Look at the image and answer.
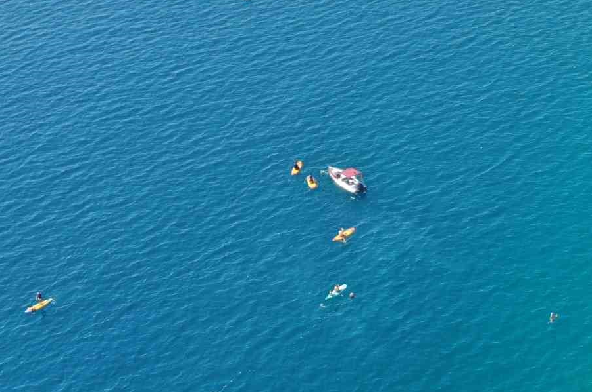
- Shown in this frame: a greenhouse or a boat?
boat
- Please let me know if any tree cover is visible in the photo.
No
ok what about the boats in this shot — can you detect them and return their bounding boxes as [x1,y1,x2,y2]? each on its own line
[306,174,318,187]
[25,298,53,312]
[291,161,302,173]
[333,227,355,239]
[330,164,367,195]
